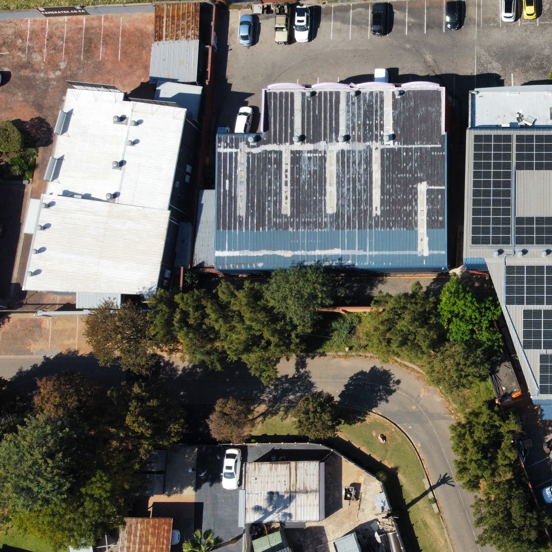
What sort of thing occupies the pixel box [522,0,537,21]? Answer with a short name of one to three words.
car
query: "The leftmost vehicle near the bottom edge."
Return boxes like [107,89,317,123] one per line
[170,529,182,544]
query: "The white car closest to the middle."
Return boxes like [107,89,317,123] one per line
[234,105,255,133]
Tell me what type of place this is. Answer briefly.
industrial area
